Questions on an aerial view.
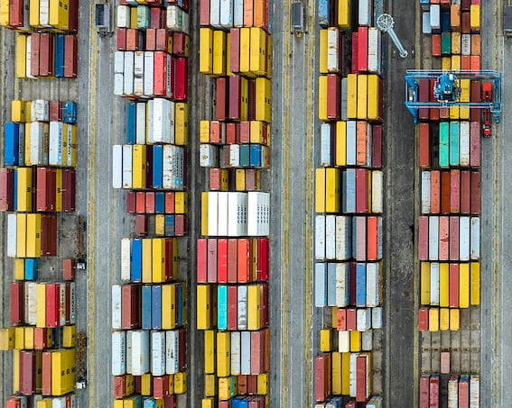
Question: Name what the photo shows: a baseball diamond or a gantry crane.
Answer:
gantry crane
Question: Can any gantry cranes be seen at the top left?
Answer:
No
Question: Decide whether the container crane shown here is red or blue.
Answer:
blue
